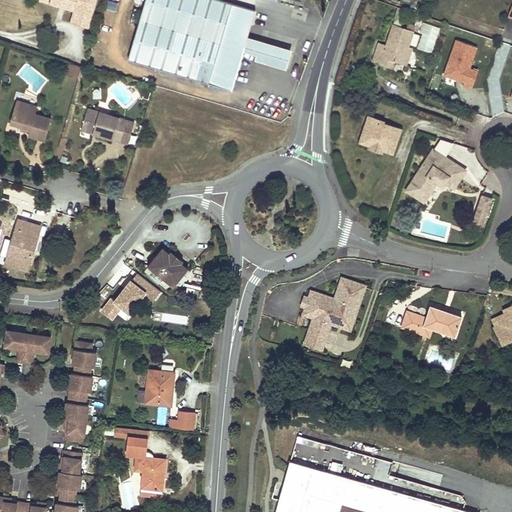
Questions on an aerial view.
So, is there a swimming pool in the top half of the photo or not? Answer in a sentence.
Yes, there is a swimming pool in the top half of the photo.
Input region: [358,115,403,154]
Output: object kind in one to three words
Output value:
house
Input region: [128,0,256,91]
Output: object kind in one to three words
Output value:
building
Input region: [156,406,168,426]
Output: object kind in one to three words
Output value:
swimming pool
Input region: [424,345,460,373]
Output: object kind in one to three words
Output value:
swimming pool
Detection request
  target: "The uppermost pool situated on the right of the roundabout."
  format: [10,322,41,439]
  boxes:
[412,212,452,243]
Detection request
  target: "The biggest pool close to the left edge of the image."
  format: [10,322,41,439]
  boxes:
[16,62,48,95]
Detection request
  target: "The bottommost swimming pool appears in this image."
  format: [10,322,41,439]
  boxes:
[120,479,140,512]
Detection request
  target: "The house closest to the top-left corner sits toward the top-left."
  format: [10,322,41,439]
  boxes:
[42,0,100,30]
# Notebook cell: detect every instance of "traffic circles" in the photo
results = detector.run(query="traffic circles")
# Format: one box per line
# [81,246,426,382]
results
[224,156,338,272]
